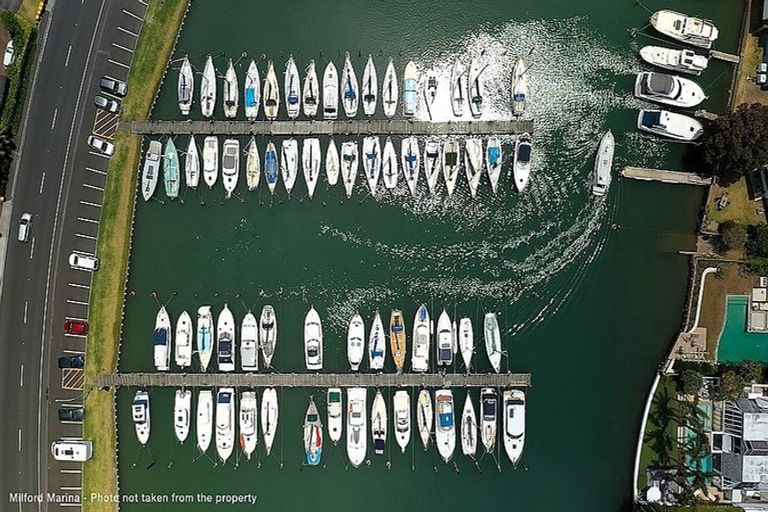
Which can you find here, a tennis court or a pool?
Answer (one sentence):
There is a pool in the scene.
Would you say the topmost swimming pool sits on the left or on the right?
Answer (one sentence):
It is on the right.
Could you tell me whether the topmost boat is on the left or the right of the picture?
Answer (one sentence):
You can find the topmost boat on the right side of the picture.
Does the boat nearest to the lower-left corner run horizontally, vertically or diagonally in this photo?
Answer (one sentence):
The boat nearest to the lower-left corner runs vertically in the image.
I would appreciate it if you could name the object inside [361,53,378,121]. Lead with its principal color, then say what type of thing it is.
white boat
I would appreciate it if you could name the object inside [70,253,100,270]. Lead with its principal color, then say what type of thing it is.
white car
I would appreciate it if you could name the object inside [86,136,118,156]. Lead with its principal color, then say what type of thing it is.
white car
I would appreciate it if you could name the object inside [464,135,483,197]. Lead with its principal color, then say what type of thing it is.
white boat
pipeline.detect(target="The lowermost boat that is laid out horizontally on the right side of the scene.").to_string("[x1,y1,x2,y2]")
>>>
[634,112,706,140]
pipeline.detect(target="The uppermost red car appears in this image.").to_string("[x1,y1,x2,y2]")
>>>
[63,320,90,334]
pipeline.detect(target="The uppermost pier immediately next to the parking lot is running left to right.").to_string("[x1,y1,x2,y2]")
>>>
[131,119,534,138]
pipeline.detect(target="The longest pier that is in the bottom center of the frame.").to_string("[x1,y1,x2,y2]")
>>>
[98,370,531,390]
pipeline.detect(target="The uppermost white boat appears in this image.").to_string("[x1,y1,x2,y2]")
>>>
[637,3,718,48]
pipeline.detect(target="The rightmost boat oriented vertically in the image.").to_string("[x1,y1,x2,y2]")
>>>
[592,129,614,197]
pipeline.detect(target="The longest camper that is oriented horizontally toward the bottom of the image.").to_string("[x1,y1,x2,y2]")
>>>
[49,442,97,461]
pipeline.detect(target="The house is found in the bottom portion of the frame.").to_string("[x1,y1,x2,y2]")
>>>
[706,383,768,512]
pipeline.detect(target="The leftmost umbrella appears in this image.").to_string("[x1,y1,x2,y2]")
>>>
[646,487,662,502]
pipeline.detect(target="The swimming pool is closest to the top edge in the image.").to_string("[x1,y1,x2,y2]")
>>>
[716,296,768,364]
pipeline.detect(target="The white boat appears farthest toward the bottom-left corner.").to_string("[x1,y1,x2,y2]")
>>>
[132,389,152,464]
